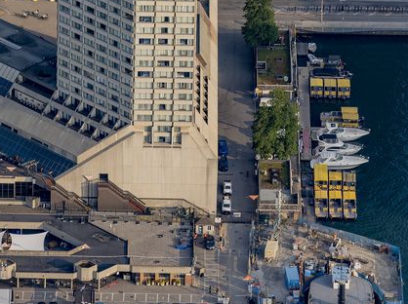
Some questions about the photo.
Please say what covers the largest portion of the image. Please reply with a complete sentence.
The scene is dominated by buildings.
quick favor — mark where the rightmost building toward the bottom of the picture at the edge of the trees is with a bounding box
[258,159,301,213]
